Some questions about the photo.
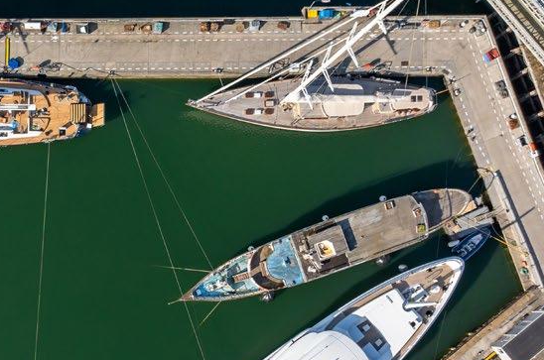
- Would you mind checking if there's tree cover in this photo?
No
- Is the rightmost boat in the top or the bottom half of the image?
bottom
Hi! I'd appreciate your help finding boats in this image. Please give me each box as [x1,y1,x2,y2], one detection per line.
[452,226,491,260]
[256,257,465,360]
[168,188,474,304]
[0,62,105,149]
[188,0,441,133]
